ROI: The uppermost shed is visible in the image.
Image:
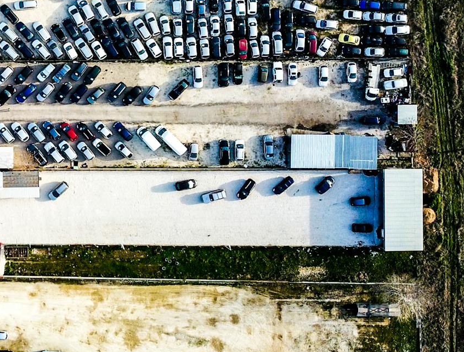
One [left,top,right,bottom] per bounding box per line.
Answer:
[390,105,418,125]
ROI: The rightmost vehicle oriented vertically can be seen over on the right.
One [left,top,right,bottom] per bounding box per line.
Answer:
[362,62,380,102]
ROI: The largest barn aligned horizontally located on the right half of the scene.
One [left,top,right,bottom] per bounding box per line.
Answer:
[286,135,377,171]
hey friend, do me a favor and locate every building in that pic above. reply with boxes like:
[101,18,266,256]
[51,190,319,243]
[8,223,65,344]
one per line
[376,169,424,251]
[286,135,377,171]
[0,172,42,199]
[0,147,13,169]
[390,105,418,125]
